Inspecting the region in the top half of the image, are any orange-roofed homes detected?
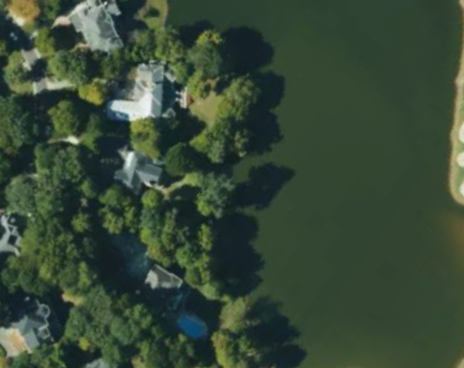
No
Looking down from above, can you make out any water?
Yes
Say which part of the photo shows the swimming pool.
bottom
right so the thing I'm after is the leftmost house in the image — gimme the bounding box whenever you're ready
[0,210,21,253]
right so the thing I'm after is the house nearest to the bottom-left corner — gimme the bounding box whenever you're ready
[11,306,52,346]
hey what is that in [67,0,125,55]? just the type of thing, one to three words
house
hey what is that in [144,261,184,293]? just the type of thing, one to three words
house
